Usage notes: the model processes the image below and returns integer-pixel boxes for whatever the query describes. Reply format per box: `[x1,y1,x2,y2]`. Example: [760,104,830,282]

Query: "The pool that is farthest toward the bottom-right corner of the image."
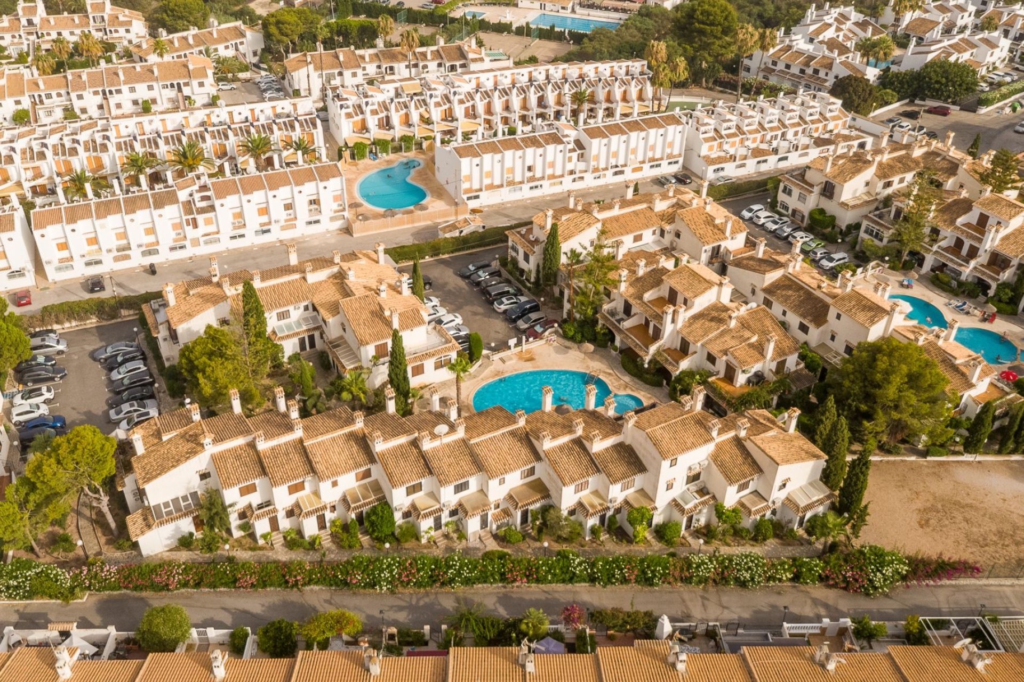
[949,323,1024,368]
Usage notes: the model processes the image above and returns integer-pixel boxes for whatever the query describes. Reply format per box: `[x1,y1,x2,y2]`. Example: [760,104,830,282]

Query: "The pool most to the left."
[356,157,430,209]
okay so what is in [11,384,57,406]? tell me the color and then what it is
white car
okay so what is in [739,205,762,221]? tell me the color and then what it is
white car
